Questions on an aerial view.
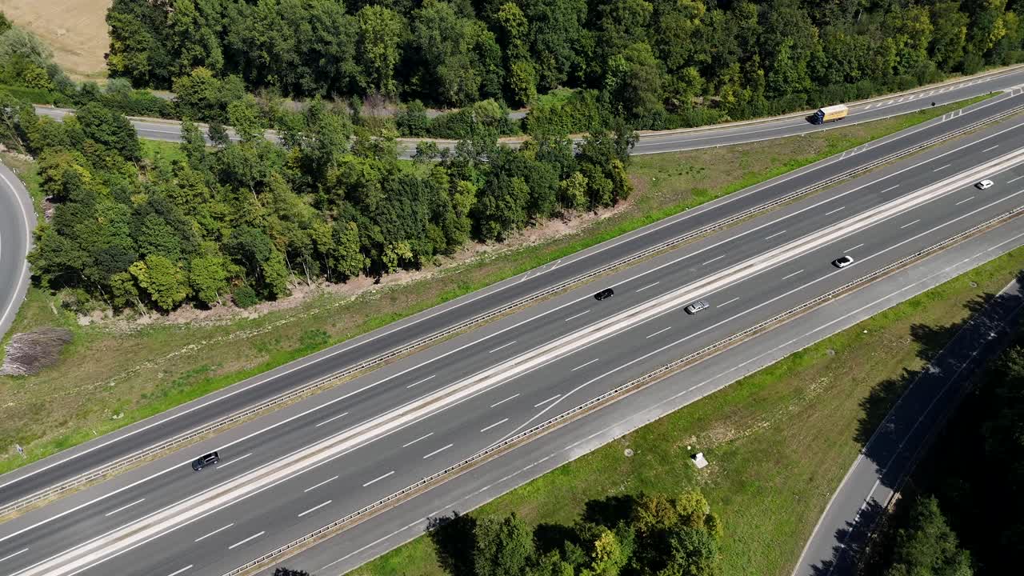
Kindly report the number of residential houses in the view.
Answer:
0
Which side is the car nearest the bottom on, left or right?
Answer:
left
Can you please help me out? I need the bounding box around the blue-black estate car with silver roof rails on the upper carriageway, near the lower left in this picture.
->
[191,451,219,471]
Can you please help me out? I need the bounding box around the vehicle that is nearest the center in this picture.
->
[592,288,613,302]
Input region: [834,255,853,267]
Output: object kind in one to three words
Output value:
vehicle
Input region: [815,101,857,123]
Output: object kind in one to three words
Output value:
truck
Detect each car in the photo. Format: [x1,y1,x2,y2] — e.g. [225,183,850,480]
[687,298,709,311]
[834,255,853,267]
[592,288,613,302]
[975,179,992,189]
[191,451,219,471]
